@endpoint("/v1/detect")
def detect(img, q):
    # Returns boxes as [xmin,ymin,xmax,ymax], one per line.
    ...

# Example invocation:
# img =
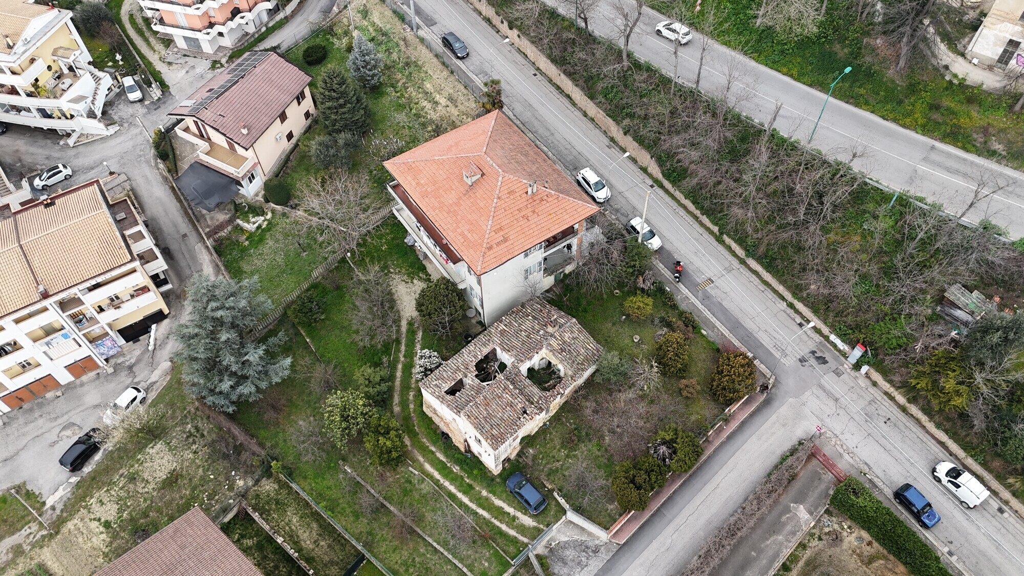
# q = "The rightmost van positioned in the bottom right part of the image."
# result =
[931,462,993,513]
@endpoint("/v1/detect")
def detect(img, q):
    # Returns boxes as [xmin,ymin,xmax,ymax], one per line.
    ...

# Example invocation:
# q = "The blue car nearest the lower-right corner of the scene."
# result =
[894,484,939,530]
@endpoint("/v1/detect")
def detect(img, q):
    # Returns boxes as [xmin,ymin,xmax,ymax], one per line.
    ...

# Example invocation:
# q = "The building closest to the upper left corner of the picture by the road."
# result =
[0,0,107,135]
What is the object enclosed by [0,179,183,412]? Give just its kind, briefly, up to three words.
building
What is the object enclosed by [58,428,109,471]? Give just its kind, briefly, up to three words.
car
